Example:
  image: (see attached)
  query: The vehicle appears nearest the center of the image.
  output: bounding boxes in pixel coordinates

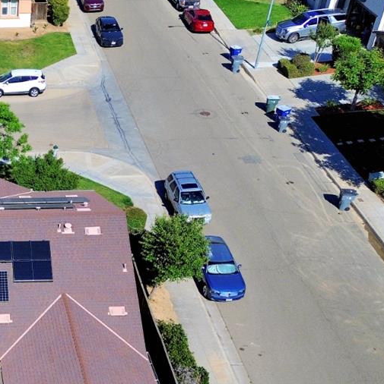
[163,165,211,219]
